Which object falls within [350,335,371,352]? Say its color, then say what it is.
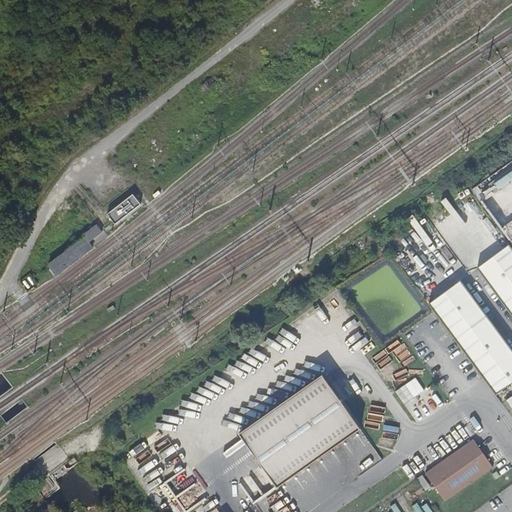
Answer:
white vehicle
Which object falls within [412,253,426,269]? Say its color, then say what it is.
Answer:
white vehicle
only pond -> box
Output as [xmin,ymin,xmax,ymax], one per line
[349,258,428,344]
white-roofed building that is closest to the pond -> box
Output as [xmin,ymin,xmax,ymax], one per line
[430,282,512,394]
